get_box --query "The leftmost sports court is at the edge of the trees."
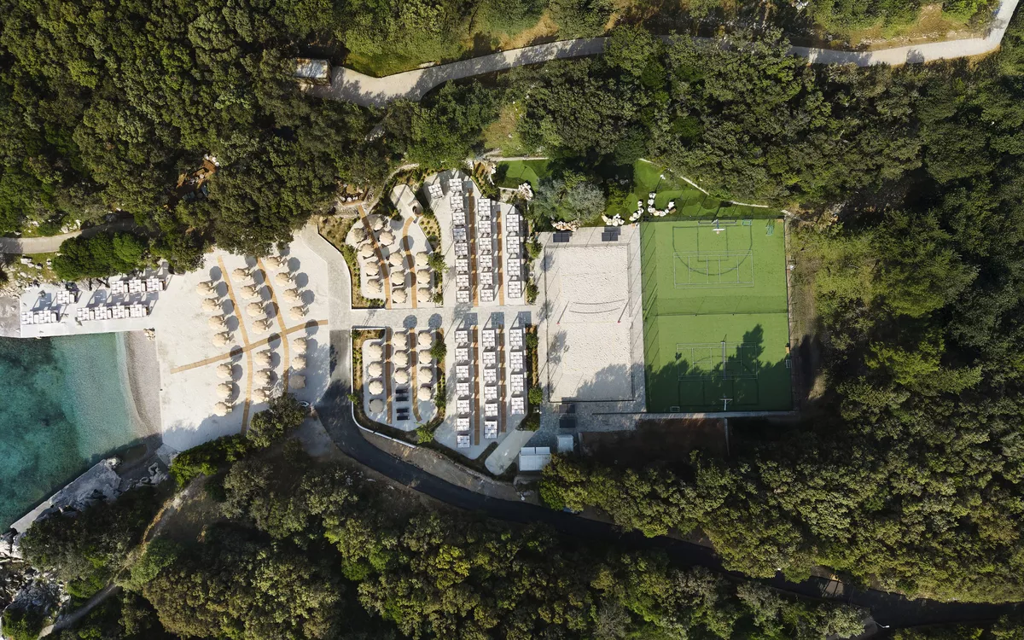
[545,246,633,401]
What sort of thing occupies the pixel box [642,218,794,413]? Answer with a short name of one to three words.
sports court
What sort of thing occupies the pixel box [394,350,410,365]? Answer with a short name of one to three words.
umbrella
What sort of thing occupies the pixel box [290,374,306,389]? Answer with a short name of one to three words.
umbrella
